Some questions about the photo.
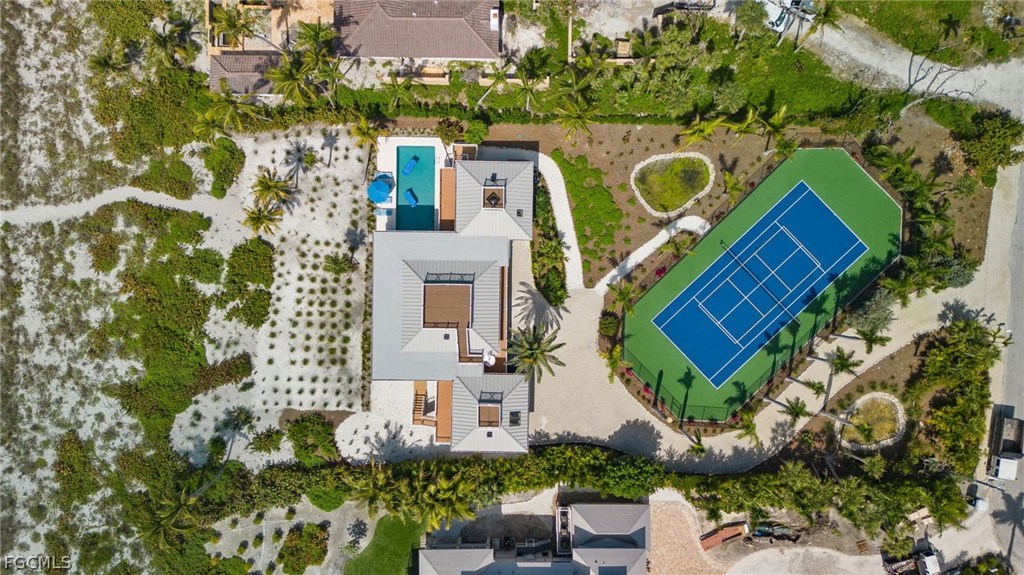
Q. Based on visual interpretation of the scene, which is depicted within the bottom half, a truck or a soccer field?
truck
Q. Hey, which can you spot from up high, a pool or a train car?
pool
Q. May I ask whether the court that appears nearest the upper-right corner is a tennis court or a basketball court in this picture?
tennis court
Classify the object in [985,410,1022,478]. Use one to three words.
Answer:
truck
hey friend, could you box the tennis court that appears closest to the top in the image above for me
[624,148,903,423]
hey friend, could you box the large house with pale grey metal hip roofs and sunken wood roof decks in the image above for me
[372,142,533,453]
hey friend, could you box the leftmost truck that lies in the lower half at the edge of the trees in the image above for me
[876,545,946,575]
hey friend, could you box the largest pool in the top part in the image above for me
[377,137,455,231]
